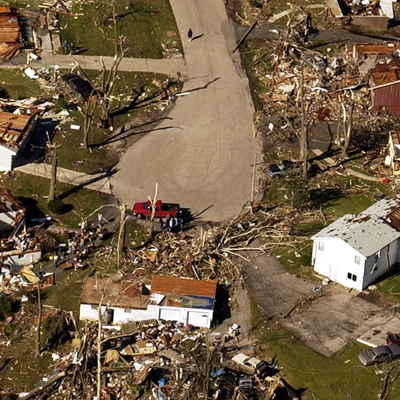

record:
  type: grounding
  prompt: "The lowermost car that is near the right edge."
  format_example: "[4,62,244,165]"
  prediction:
[356,345,400,368]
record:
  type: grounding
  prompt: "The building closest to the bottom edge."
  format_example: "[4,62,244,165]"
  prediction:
[78,275,218,328]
